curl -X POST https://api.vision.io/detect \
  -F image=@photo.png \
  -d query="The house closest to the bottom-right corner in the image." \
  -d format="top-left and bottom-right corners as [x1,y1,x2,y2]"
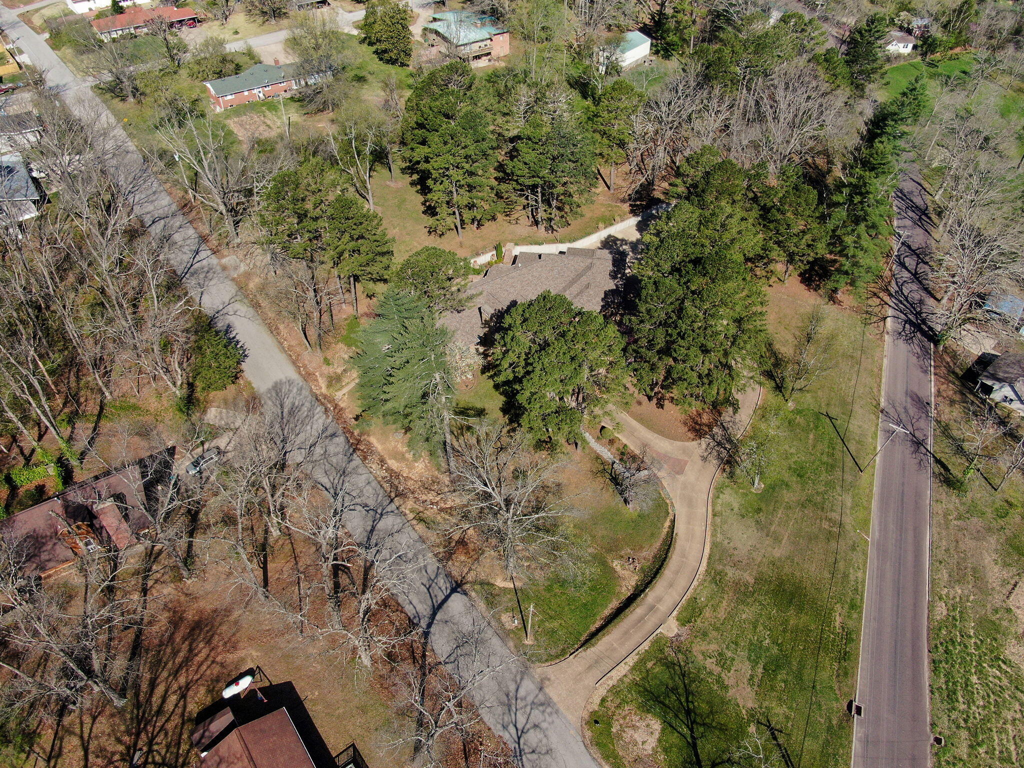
[968,353,1024,422]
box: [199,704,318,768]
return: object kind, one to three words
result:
house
